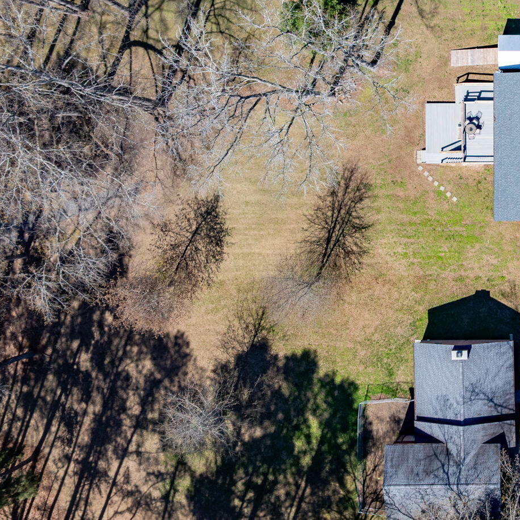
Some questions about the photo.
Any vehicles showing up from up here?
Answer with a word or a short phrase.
No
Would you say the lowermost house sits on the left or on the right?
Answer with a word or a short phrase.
right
